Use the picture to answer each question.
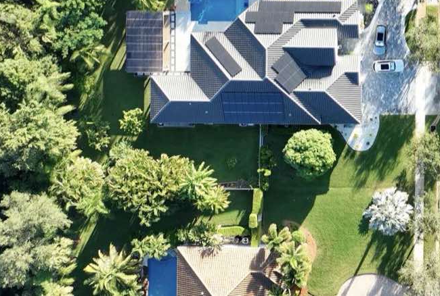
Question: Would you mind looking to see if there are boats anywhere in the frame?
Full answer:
No, I find no boat anywhere in the image.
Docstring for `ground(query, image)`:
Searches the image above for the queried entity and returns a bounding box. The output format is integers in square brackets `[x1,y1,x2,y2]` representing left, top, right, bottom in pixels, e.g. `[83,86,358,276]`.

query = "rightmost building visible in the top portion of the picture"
[150,0,363,125]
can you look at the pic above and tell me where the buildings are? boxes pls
[150,0,363,125]
[176,243,292,296]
